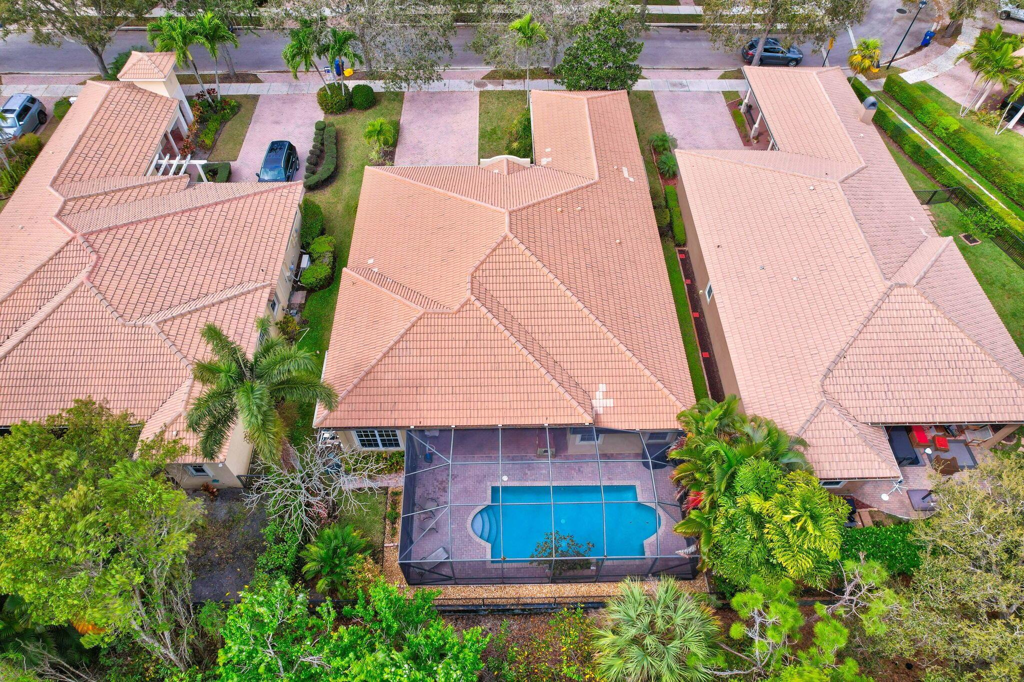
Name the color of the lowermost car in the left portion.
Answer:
blue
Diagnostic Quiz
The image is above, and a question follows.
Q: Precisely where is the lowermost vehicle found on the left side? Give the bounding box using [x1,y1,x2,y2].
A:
[247,136,297,182]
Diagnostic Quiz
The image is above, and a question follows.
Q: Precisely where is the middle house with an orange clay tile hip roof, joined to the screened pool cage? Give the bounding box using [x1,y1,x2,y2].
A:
[309,88,703,454]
